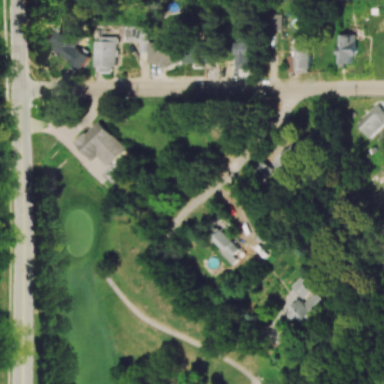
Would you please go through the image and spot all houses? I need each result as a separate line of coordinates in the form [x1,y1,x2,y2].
[334,34,357,69]
[285,276,324,320]
[93,36,118,74]
[208,225,242,262]
[232,42,246,68]
[46,28,90,70]
[356,104,384,138]
[71,122,124,168]
[147,41,172,65]
[255,160,278,183]
[288,49,310,73]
